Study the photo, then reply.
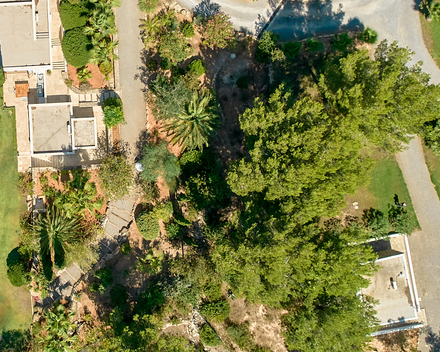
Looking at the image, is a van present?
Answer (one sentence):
No, no van can be seen from above.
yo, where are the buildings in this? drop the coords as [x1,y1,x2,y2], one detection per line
[347,249,418,327]
[0,0,52,73]
[29,103,97,156]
